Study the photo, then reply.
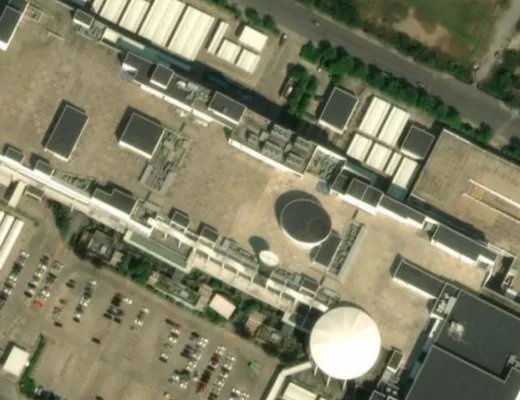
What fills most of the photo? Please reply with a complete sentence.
Most of the picture is covered by buildings.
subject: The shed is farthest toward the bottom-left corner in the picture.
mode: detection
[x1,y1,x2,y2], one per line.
[2,346,30,378]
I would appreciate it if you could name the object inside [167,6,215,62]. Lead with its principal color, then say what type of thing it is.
white tent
